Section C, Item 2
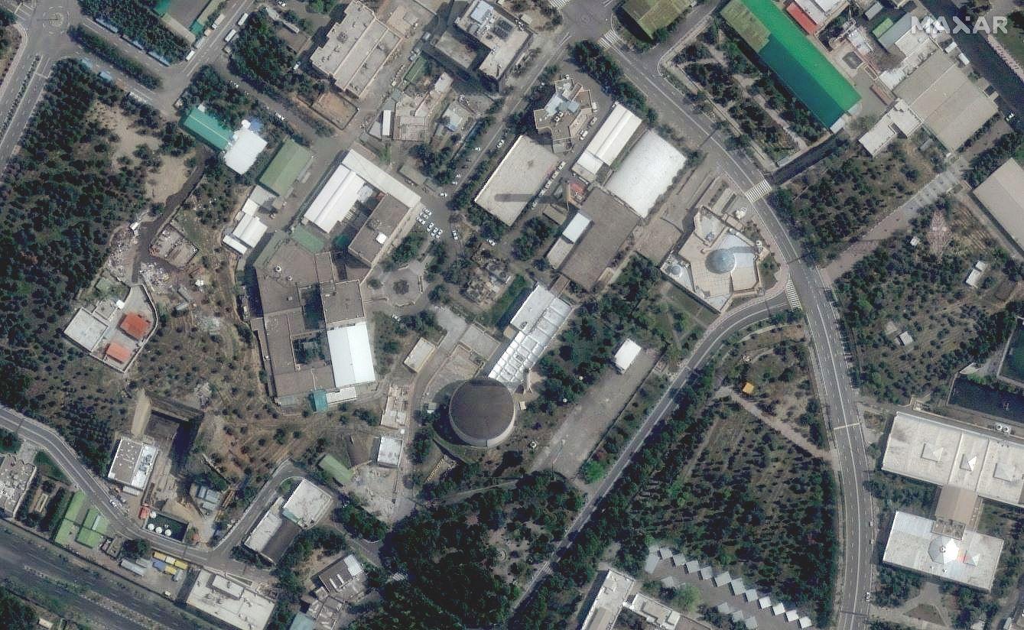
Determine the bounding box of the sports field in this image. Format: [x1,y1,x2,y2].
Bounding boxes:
[1000,321,1024,381]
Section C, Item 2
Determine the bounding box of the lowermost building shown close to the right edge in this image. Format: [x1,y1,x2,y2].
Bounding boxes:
[883,512,1002,595]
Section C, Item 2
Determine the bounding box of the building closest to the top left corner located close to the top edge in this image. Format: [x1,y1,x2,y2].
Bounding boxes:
[154,0,223,46]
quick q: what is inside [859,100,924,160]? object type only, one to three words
building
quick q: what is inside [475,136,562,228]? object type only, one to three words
building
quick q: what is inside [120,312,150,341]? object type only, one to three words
house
